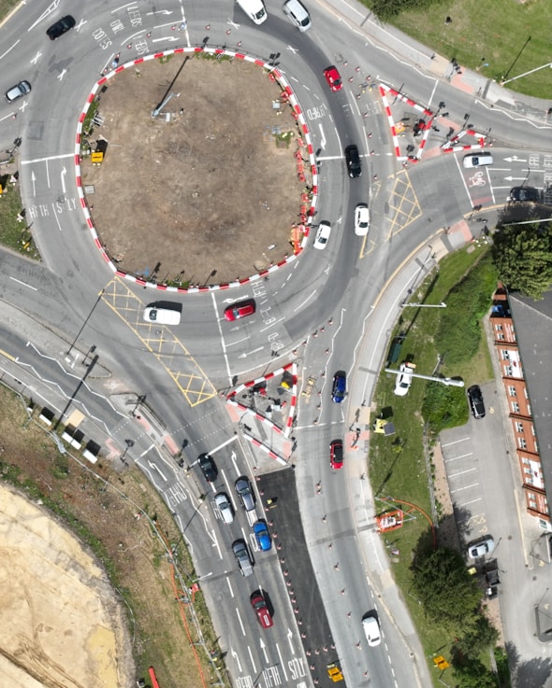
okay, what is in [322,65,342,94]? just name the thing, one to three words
car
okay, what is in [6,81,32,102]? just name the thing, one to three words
car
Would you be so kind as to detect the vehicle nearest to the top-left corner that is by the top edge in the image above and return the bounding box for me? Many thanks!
[46,16,75,39]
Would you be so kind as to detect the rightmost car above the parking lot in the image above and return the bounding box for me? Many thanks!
[509,185,542,201]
